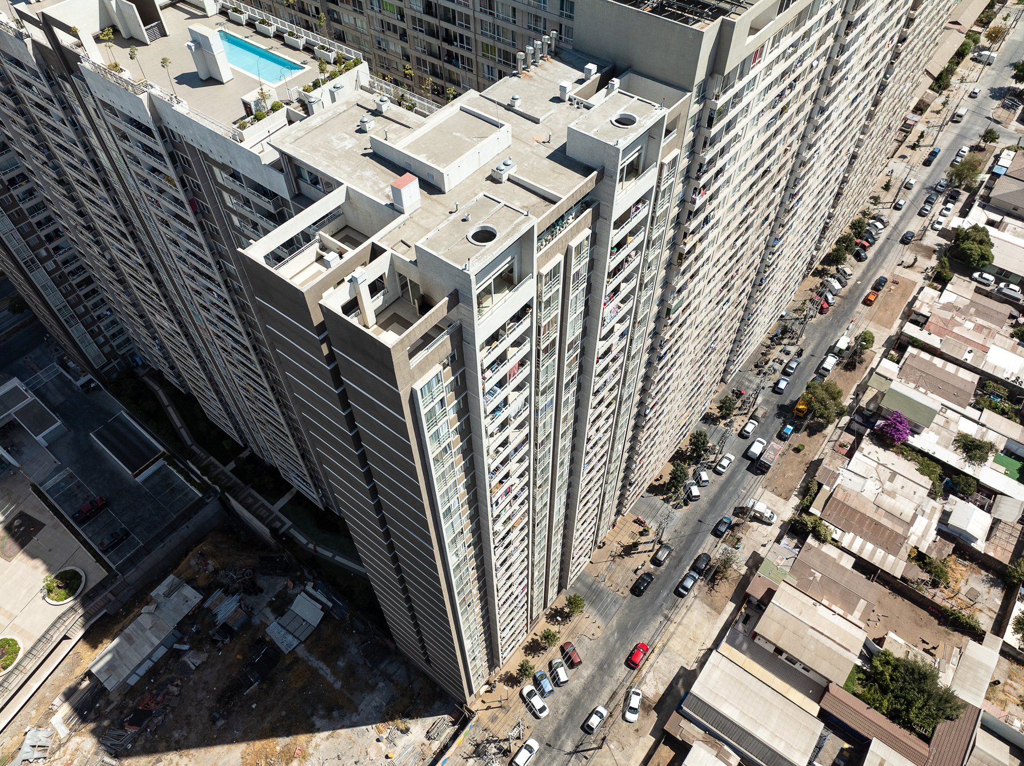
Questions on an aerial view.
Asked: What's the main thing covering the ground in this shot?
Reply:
buildings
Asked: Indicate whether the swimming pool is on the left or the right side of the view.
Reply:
left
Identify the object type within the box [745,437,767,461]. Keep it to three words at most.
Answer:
vehicle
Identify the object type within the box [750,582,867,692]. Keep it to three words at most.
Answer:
house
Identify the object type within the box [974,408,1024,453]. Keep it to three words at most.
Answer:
shed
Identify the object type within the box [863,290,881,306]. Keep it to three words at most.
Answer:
car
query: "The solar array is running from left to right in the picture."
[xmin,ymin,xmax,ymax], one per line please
[644,0,793,36]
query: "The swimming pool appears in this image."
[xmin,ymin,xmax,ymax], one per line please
[215,25,307,86]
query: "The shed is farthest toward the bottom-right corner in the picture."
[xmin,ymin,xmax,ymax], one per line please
[961,730,1014,766]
